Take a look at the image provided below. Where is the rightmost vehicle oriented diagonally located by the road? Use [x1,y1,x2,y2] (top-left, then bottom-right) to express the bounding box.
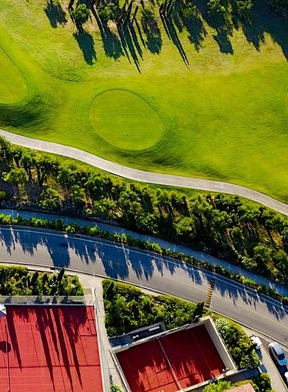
[266,340,288,367]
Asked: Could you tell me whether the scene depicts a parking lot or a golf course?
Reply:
golf course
